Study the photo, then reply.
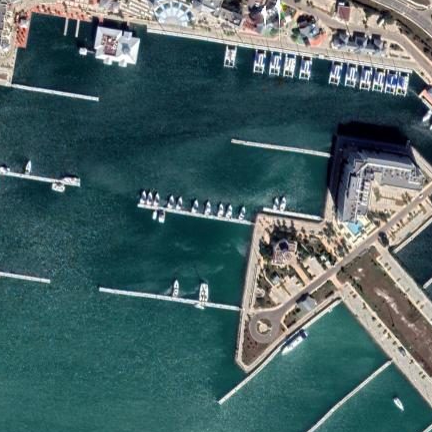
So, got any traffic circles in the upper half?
No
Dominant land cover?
water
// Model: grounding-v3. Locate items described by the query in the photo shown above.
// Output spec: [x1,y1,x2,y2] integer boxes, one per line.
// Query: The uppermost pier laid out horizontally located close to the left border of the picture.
[10,83,100,101]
